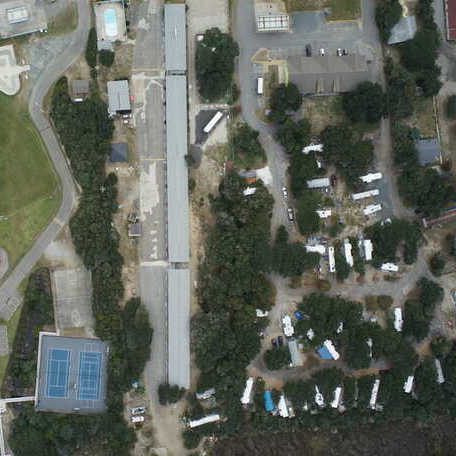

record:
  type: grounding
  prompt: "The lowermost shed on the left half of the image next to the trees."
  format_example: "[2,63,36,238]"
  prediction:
[169,269,190,387]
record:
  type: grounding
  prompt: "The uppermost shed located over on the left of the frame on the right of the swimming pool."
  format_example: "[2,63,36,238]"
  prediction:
[166,4,185,71]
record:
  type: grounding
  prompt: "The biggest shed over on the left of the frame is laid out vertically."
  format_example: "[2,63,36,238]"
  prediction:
[166,75,189,262]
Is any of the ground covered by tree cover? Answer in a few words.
Yes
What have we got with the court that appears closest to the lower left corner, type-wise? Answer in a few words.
tennis court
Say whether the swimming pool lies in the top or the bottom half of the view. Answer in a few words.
top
